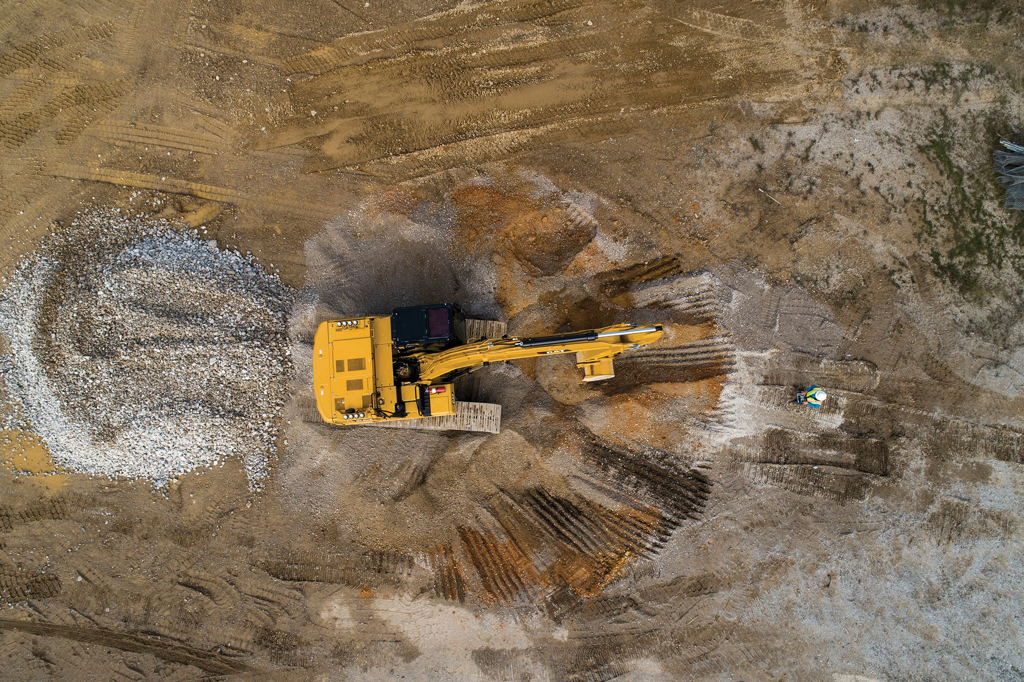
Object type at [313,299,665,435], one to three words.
work vehicle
